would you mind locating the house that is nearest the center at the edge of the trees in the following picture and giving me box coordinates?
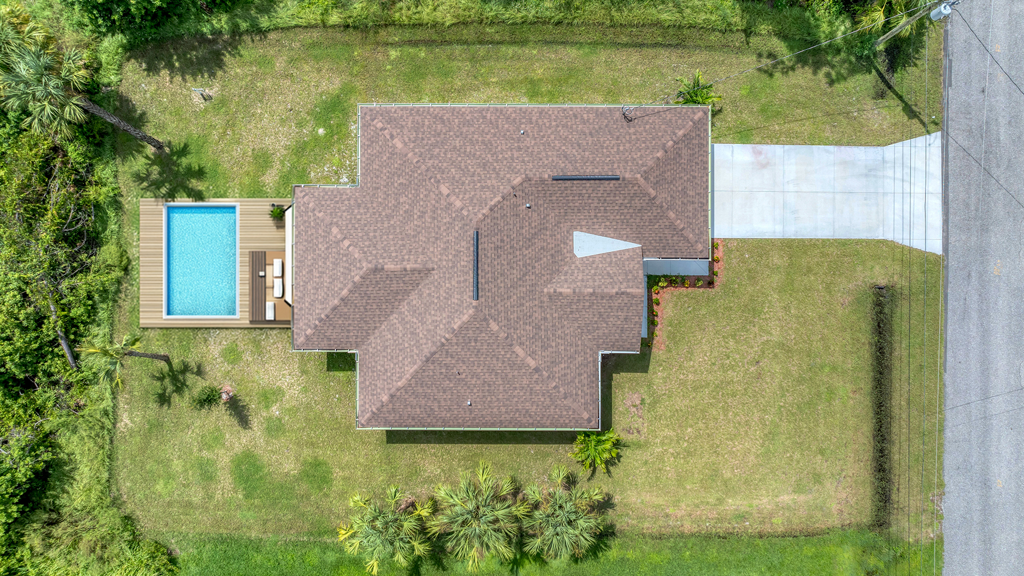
[290,103,713,431]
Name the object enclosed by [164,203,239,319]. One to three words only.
swimming pool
